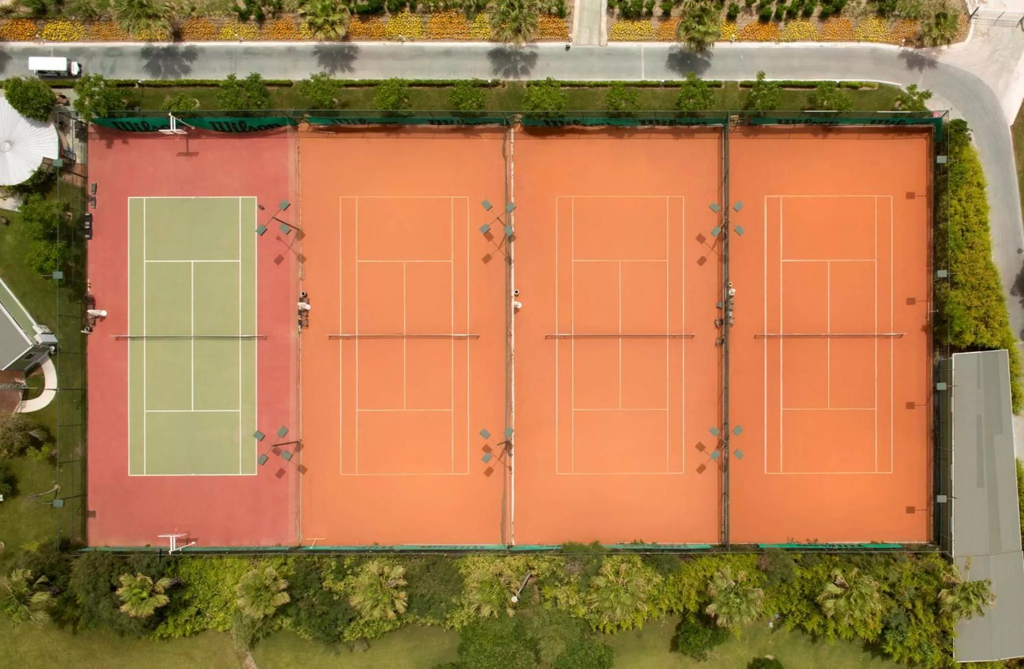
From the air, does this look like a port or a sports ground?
sports ground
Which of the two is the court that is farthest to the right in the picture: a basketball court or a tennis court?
tennis court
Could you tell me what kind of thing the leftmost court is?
tennis court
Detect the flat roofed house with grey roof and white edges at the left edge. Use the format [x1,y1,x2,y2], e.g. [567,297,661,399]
[0,276,59,373]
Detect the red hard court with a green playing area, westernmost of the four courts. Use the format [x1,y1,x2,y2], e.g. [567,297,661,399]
[87,125,300,545]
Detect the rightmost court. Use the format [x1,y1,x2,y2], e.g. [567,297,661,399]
[724,125,933,545]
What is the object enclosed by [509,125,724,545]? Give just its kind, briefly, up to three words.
tennis court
